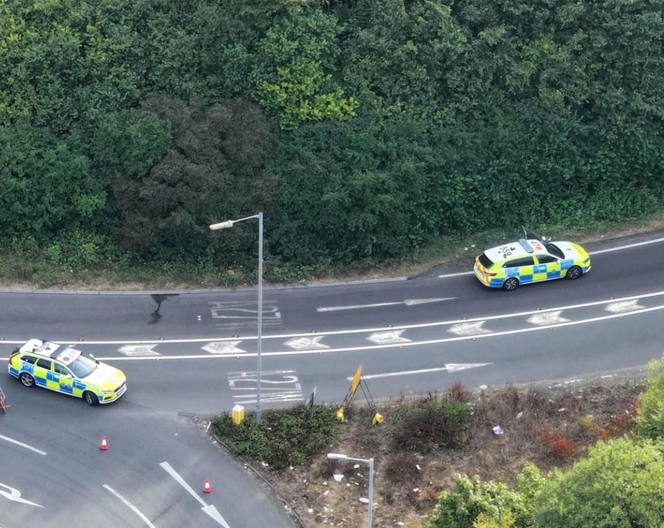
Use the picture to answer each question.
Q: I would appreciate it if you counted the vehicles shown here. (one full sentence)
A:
Altogether the scene contains 2 vehicles.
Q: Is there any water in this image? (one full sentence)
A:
No, the picture contains no water.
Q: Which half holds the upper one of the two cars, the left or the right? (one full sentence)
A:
The upper one of the two cars sits on the right side.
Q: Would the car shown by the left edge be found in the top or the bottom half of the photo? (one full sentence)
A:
The car shown by the left edge sits in the bottom half of the picture.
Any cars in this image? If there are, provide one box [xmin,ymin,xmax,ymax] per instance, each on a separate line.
[473,225,591,290]
[7,338,127,405]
